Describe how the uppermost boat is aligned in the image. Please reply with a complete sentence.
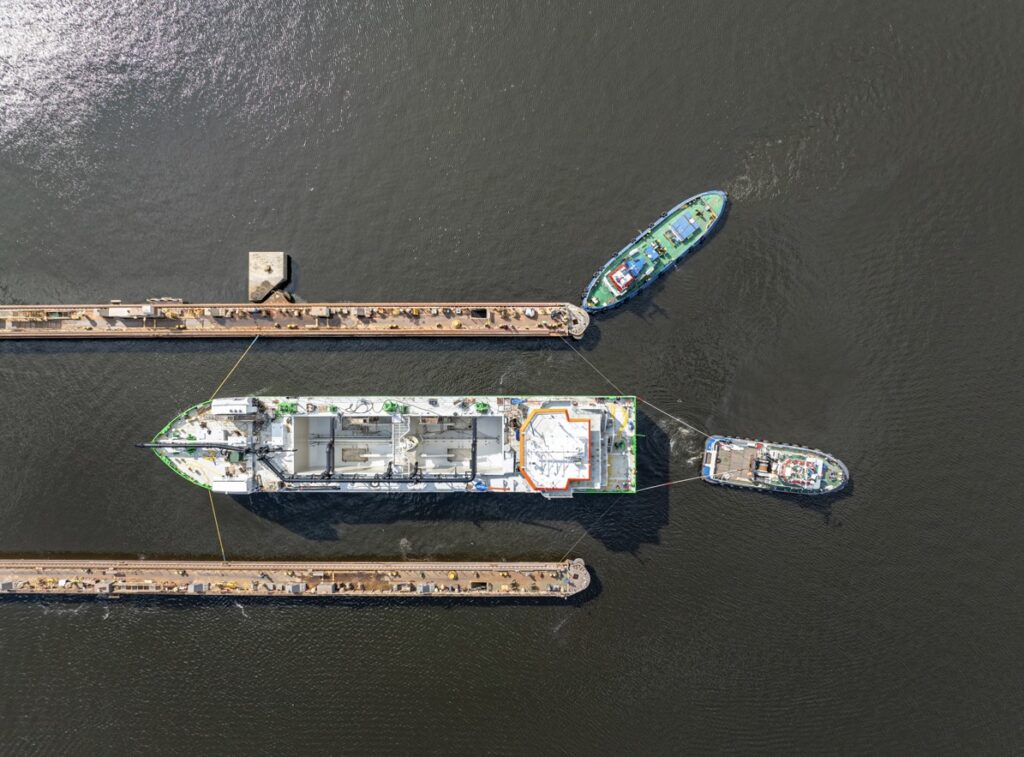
The uppermost boat is oriented on a diagonal.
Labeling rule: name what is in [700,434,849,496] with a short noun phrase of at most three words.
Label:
boat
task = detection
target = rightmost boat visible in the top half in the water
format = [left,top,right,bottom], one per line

[576,192,728,317]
